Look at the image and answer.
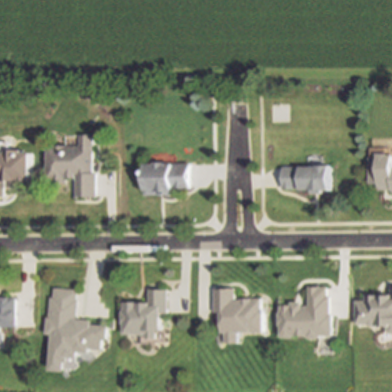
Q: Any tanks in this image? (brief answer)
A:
No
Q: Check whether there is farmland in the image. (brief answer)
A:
Yes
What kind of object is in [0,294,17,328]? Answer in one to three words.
house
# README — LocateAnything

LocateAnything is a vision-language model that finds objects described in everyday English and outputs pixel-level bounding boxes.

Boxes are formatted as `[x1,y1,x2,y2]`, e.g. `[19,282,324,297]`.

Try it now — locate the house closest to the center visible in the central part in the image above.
[136,162,192,197]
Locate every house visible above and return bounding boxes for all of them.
[366,153,392,194]
[136,162,192,197]
[276,286,331,341]
[354,294,392,334]
[120,289,168,340]
[45,134,97,197]
[44,287,108,372]
[276,165,332,196]
[0,294,17,328]
[0,147,28,198]
[212,287,263,344]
